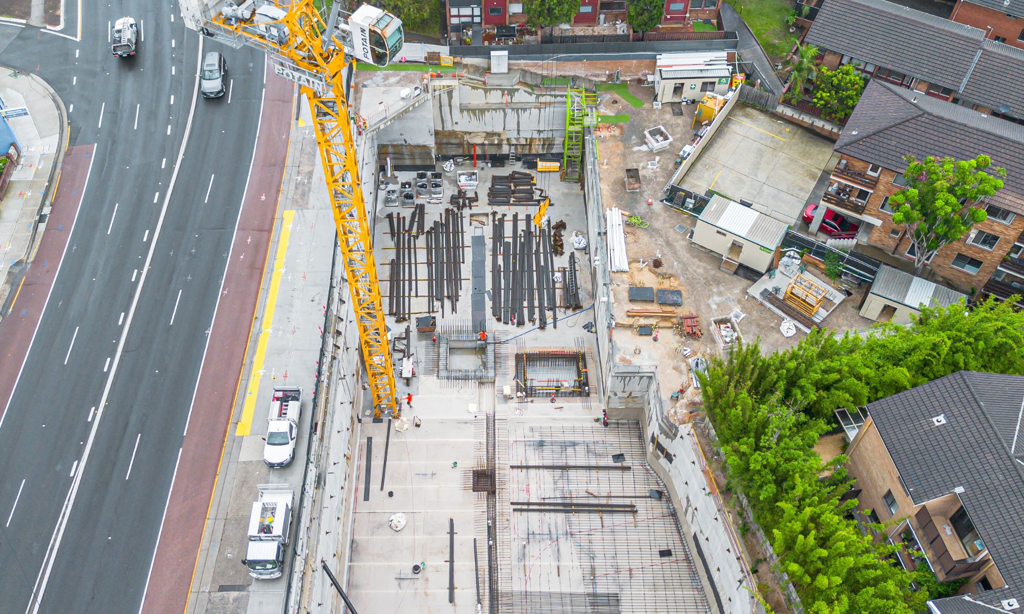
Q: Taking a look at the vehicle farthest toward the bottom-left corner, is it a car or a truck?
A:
truck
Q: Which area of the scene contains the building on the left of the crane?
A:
top left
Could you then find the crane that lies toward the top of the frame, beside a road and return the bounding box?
[170,0,410,420]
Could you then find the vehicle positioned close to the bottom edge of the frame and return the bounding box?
[234,484,292,585]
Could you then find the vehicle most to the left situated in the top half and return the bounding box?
[107,17,135,54]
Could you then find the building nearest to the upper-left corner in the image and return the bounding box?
[0,102,29,155]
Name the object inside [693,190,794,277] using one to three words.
shed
